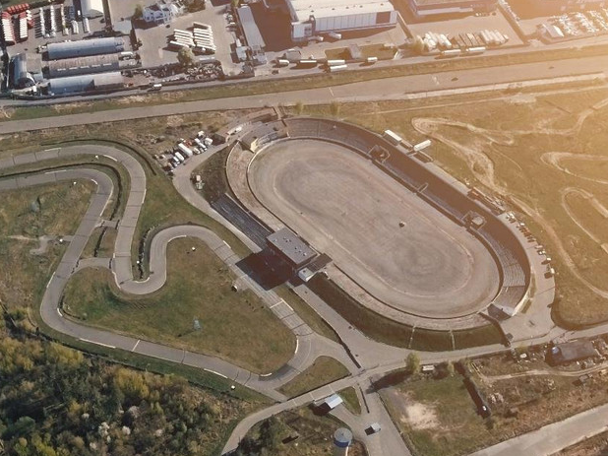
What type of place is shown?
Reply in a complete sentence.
This image shows a sports ground.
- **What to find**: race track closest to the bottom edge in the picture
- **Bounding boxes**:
[0,144,358,391]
